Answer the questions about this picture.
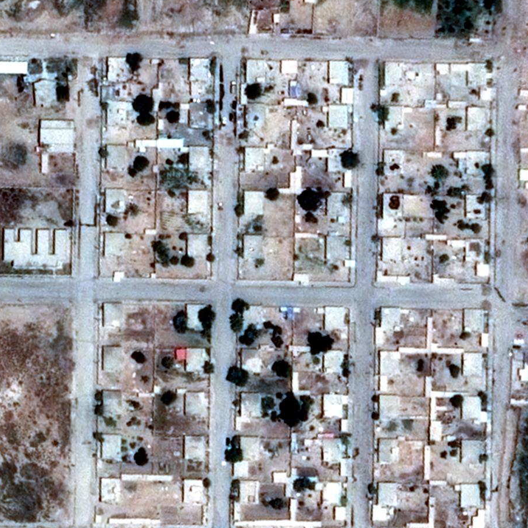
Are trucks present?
No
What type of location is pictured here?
residential area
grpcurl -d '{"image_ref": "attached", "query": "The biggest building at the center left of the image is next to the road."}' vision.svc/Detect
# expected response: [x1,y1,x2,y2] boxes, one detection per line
[4,229,69,268]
